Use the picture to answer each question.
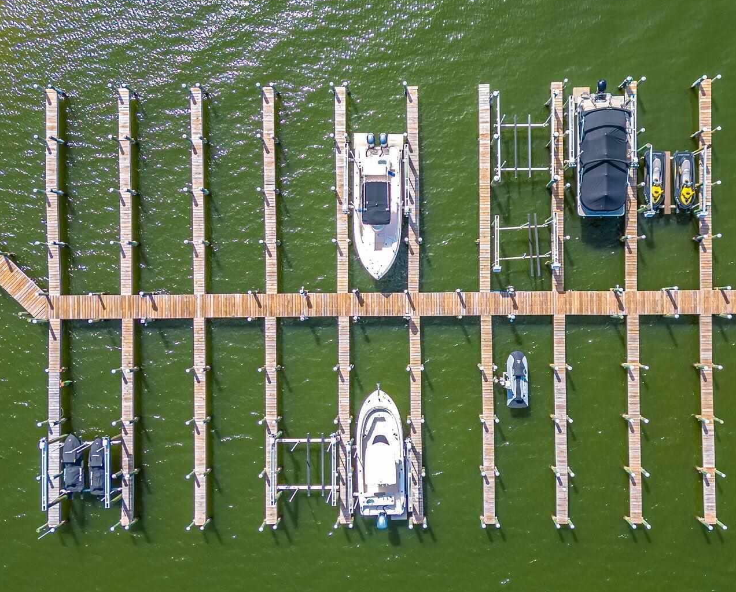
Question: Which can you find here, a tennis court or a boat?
boat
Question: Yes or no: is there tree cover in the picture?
No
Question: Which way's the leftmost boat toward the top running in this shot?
up and down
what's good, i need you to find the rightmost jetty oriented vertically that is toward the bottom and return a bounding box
[692,315,727,529]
